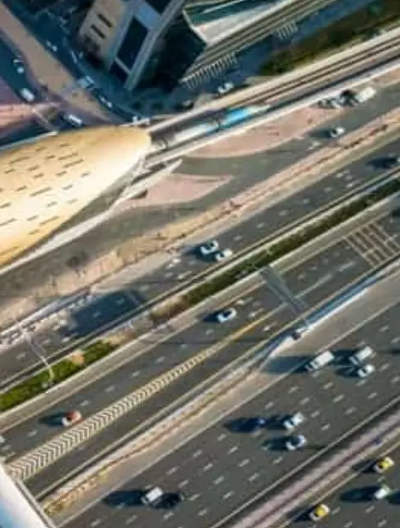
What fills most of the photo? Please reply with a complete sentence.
Most of the picture is covered by paved ground.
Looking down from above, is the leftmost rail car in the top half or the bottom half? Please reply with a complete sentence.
You can find the leftmost rail car in the top half.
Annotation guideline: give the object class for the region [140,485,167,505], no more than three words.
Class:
vehicle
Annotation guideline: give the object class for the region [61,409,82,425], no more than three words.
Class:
car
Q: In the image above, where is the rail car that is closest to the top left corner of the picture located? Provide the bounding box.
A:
[150,133,188,156]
